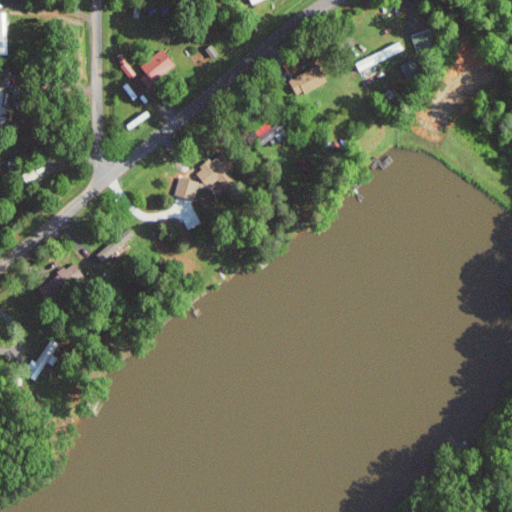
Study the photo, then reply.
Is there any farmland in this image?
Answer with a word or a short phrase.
No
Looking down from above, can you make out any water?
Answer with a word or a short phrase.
Yes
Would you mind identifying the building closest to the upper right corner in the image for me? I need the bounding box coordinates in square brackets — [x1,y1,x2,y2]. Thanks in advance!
[410,31,433,53]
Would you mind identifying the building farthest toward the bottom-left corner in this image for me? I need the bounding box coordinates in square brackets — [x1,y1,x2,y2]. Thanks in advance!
[30,340,59,381]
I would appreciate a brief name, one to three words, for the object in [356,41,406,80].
house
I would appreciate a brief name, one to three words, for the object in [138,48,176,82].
house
